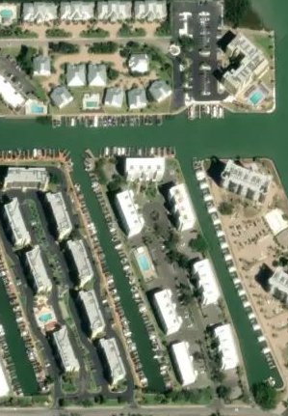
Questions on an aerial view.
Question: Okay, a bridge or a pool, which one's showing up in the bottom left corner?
pool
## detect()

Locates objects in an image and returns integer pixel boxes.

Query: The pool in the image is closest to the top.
[0,3,16,25]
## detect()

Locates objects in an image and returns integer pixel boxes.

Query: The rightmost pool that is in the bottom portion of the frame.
[134,245,156,280]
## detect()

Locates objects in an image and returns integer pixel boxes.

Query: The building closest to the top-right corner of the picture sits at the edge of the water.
[220,34,269,101]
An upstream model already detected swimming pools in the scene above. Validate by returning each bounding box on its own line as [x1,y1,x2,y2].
[0,3,16,25]
[26,98,46,115]
[244,83,269,109]
[35,304,55,327]
[134,245,156,280]
[82,94,99,110]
